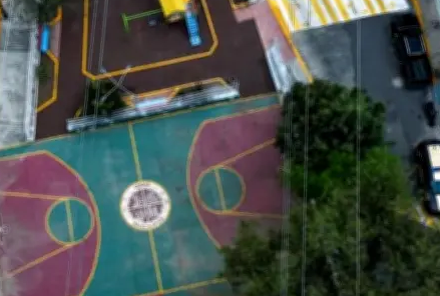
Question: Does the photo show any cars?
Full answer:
Yes, the picture does show a car.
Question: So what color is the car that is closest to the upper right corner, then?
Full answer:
The color of the car that is closest to the upper right corner is black.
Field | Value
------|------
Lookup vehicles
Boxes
[389,15,432,87]
[423,101,440,126]
[412,141,440,212]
